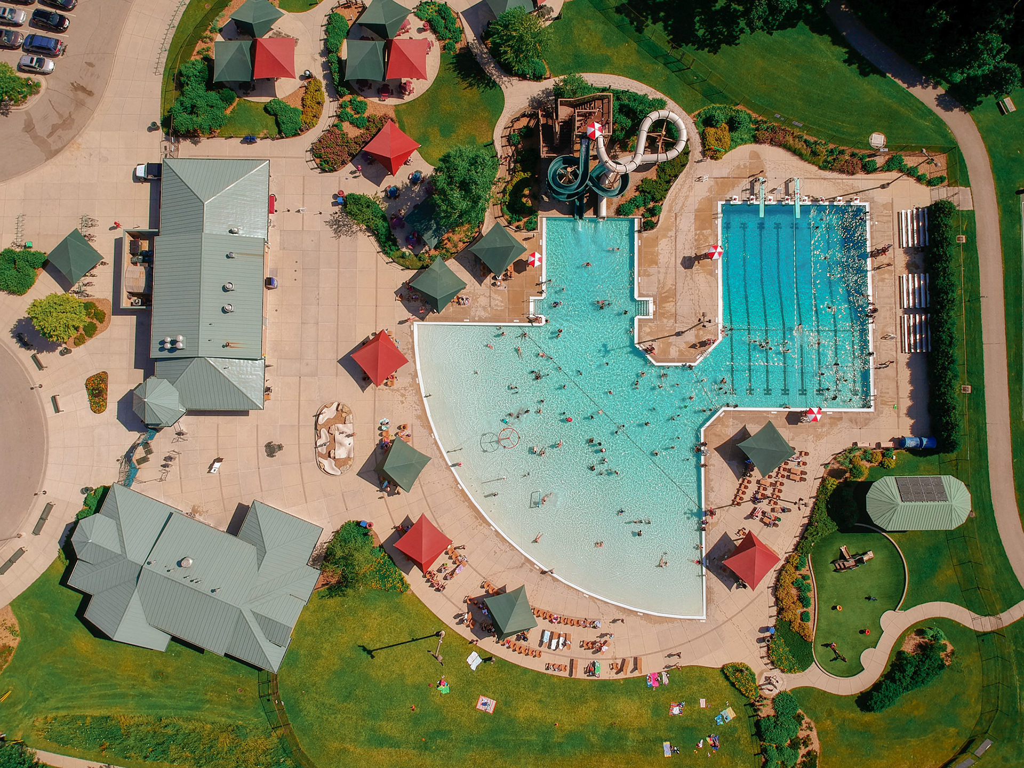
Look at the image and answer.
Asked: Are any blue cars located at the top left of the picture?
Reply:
Yes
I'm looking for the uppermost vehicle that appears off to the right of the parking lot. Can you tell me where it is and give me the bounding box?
[132,162,163,181]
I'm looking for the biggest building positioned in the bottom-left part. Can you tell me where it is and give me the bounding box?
[67,483,323,674]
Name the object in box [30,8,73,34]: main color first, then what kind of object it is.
black car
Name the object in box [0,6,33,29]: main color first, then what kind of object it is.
gray car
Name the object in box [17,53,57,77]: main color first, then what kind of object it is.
gray car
